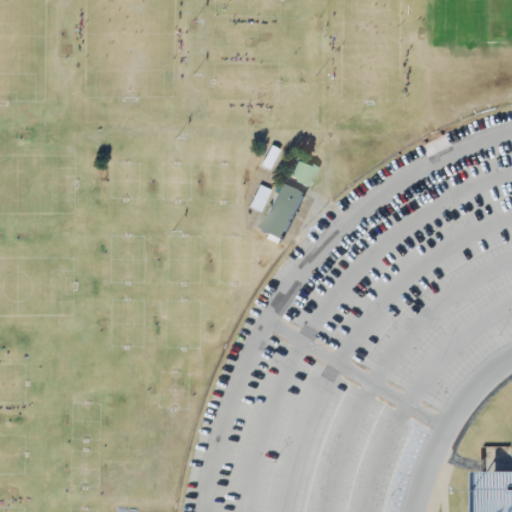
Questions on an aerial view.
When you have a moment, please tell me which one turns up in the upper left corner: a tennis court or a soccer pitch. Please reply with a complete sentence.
Visible in the upper left corner is a soccer pitch.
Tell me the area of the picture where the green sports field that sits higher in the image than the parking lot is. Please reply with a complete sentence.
The green sports field that sits higher in the image than the parking lot appears toward the top right of the photo.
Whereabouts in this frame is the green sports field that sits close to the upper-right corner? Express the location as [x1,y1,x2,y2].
[430,0,512,50]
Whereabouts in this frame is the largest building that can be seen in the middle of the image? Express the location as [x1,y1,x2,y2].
[259,184,305,244]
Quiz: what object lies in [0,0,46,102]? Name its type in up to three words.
soccer field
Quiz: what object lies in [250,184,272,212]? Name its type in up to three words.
shed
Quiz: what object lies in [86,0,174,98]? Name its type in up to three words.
soccer field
